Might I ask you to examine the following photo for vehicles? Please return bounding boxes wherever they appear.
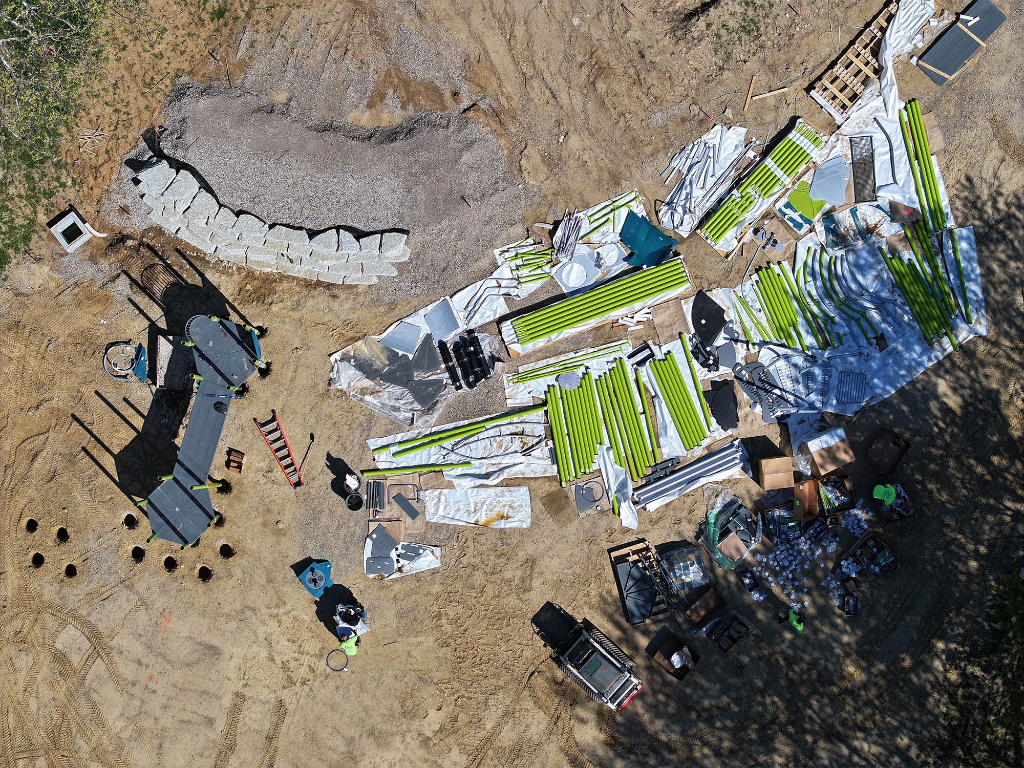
[525,599,646,715]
